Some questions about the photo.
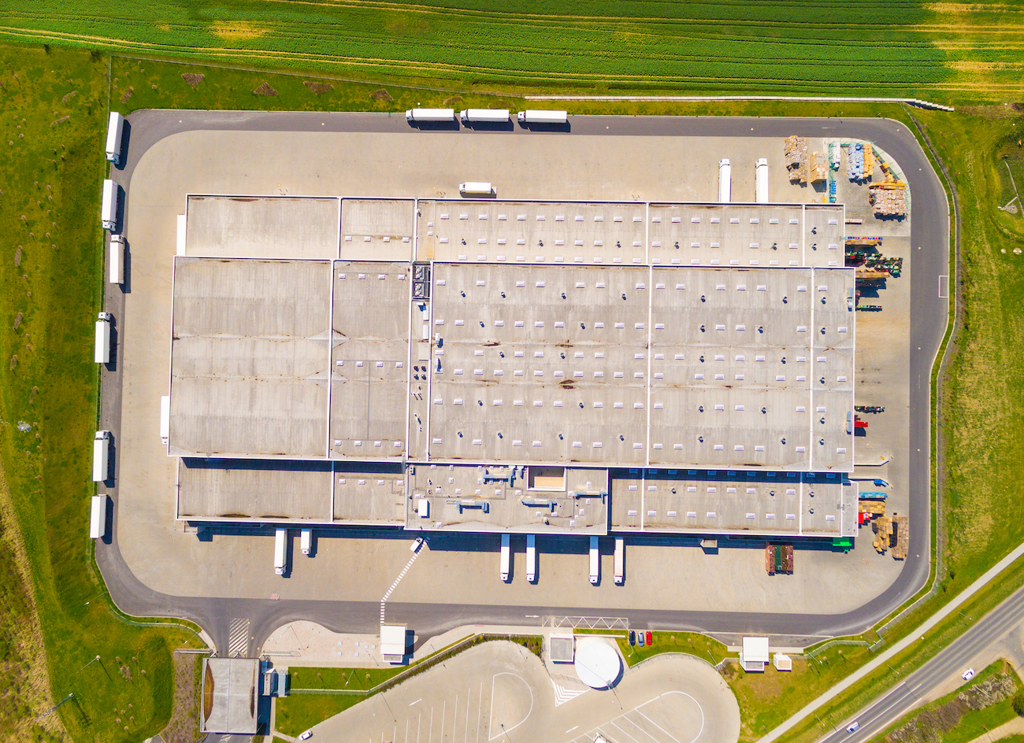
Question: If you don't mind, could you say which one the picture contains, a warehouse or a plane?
warehouse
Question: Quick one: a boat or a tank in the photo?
tank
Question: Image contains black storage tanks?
No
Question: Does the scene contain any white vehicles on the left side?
Yes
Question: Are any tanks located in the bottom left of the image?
No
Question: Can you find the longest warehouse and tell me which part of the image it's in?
center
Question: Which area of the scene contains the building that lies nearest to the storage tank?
bottom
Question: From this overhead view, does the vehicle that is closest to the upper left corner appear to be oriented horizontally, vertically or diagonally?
vertically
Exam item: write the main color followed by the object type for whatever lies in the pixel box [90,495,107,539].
white trailer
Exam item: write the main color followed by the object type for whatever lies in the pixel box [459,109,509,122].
white vehicle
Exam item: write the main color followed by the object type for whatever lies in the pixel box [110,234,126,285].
white vehicle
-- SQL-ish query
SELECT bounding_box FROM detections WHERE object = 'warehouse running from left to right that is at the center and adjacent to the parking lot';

[168,194,859,543]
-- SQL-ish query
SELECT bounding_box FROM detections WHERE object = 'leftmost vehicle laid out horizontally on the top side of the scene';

[404,108,455,121]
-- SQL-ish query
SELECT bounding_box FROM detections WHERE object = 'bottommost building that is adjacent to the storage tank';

[550,630,573,662]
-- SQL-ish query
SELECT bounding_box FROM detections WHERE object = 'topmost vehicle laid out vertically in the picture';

[106,109,126,164]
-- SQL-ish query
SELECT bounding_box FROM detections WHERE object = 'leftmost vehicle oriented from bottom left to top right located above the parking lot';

[410,536,423,552]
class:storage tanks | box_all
[572,637,620,688]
